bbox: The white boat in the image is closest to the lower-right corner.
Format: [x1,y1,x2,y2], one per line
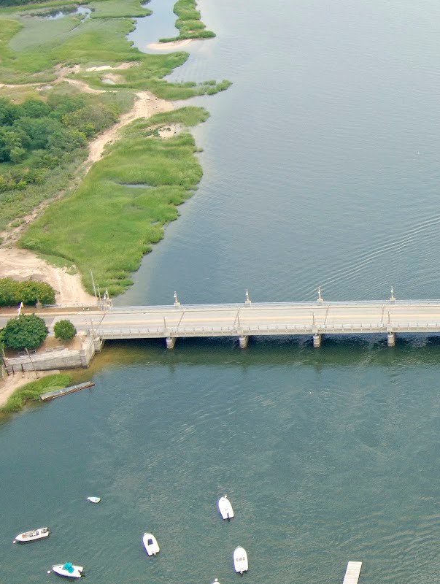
[233,543,248,576]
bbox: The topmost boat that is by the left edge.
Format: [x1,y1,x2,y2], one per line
[16,528,52,543]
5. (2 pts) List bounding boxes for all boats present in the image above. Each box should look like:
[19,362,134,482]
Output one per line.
[52,561,87,579]
[233,543,248,576]
[16,528,52,543]
[142,532,161,560]
[219,494,234,522]
[89,497,101,504]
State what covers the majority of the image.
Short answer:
water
